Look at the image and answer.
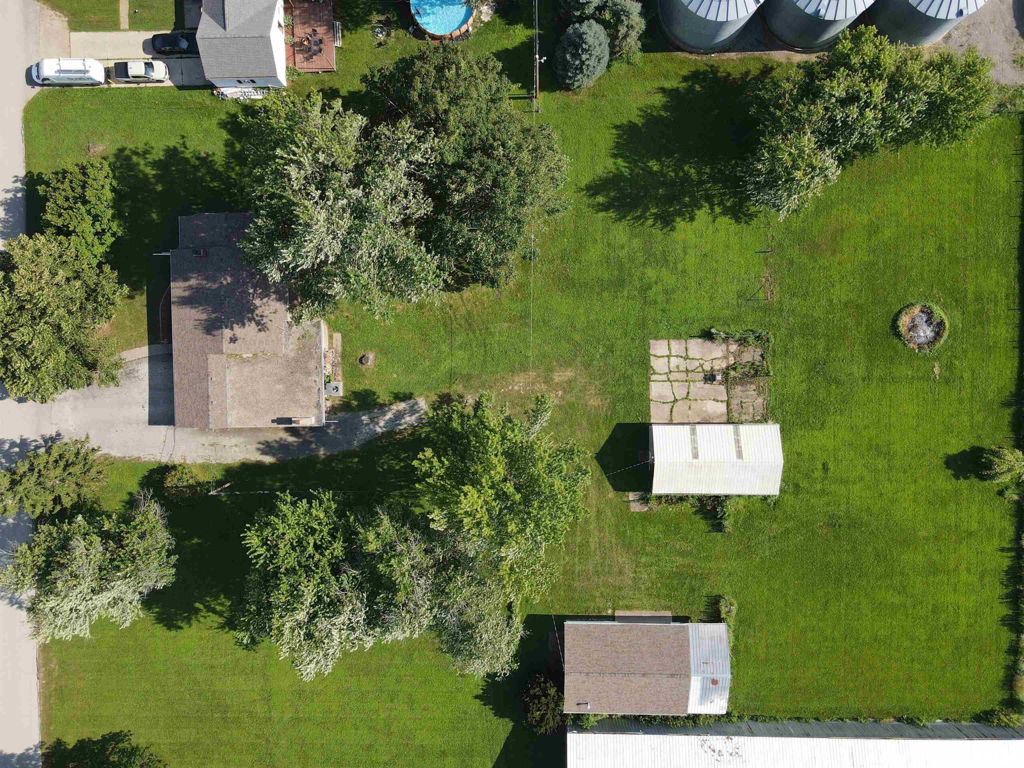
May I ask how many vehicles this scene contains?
three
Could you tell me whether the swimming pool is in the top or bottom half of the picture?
top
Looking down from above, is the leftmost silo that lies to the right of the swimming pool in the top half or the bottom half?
top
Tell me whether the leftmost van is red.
No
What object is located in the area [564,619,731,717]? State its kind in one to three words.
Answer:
building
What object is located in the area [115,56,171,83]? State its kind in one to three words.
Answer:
truck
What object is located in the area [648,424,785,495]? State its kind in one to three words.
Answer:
shed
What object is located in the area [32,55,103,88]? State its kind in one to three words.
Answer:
van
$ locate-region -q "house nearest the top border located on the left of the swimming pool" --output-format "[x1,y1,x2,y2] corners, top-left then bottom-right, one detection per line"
[197,0,286,89]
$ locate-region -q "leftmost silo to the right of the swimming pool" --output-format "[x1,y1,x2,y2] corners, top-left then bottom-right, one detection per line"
[654,0,762,57]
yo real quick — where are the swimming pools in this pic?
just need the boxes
[409,0,470,40]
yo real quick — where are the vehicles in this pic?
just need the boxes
[154,29,200,55]
[115,56,171,83]
[32,55,103,88]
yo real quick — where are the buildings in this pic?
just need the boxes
[170,213,327,428]
[648,424,785,495]
[564,619,731,717]
[197,0,286,89]
[567,718,1024,768]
